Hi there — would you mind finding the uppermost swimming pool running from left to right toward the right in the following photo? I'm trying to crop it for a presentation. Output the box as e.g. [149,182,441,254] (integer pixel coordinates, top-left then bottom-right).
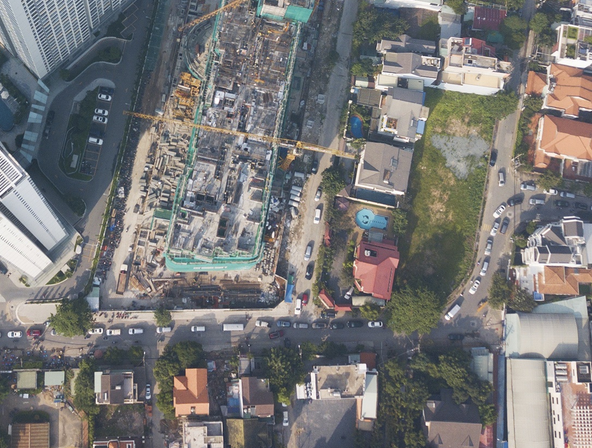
[352,190,399,209]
